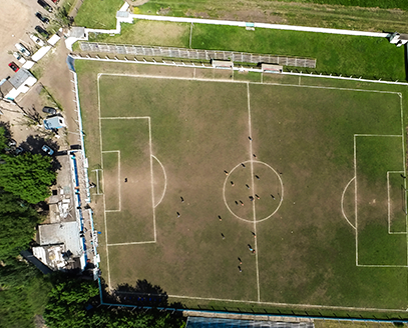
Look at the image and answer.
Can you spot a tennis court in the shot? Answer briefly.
No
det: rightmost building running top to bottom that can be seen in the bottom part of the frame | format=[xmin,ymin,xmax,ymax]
[23,155,78,275]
